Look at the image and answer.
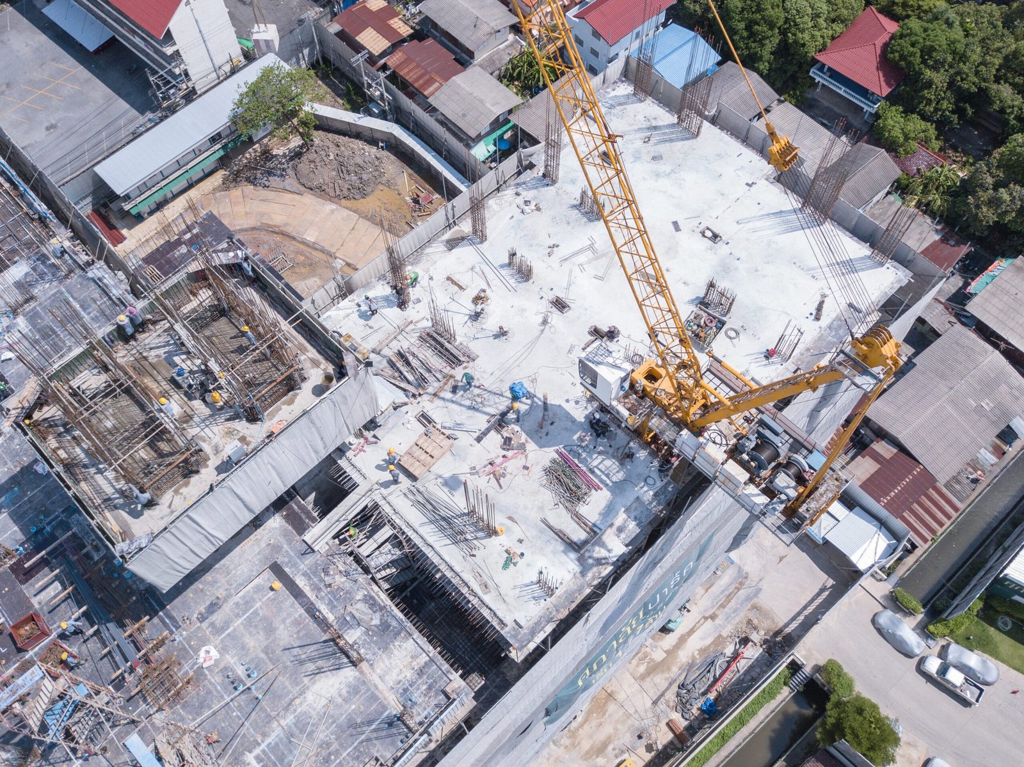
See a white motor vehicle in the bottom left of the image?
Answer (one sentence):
No, I can find no white motor vehicle in the bottom left of the image.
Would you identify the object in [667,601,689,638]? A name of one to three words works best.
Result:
work vehicle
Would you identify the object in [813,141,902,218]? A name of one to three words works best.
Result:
house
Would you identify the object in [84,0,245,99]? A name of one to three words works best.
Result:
building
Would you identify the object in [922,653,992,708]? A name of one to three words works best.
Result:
truck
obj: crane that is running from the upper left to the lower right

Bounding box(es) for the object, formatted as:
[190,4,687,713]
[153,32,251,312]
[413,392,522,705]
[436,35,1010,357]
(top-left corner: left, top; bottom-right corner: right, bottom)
[521,0,907,556]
